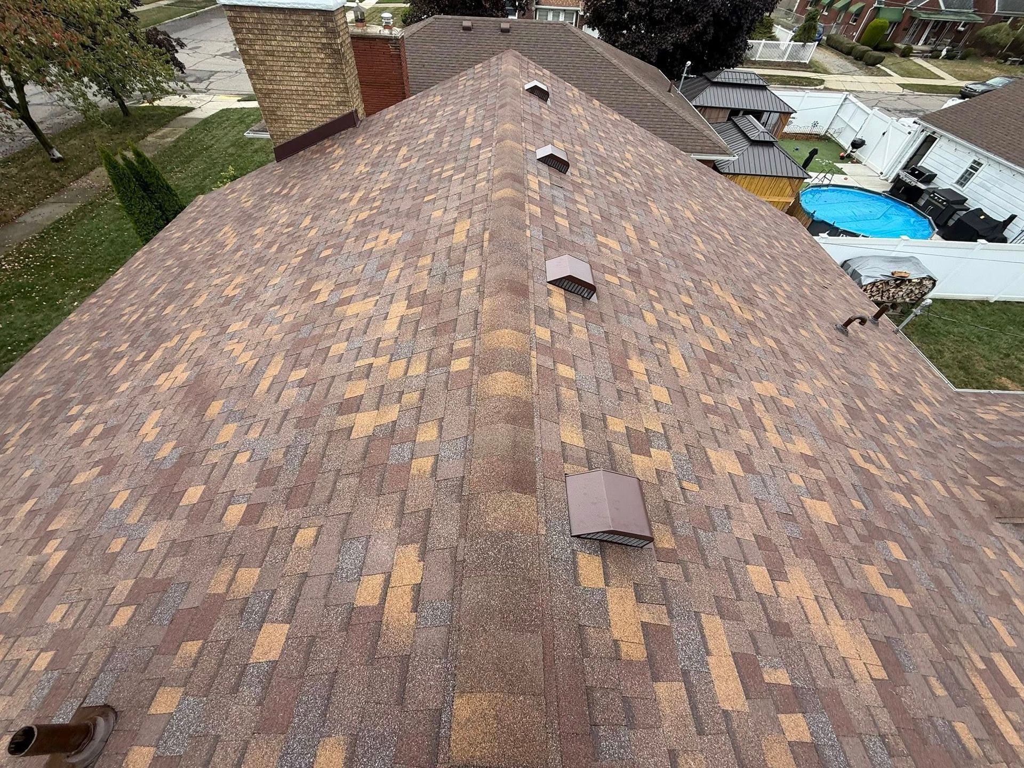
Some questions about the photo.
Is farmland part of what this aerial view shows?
No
